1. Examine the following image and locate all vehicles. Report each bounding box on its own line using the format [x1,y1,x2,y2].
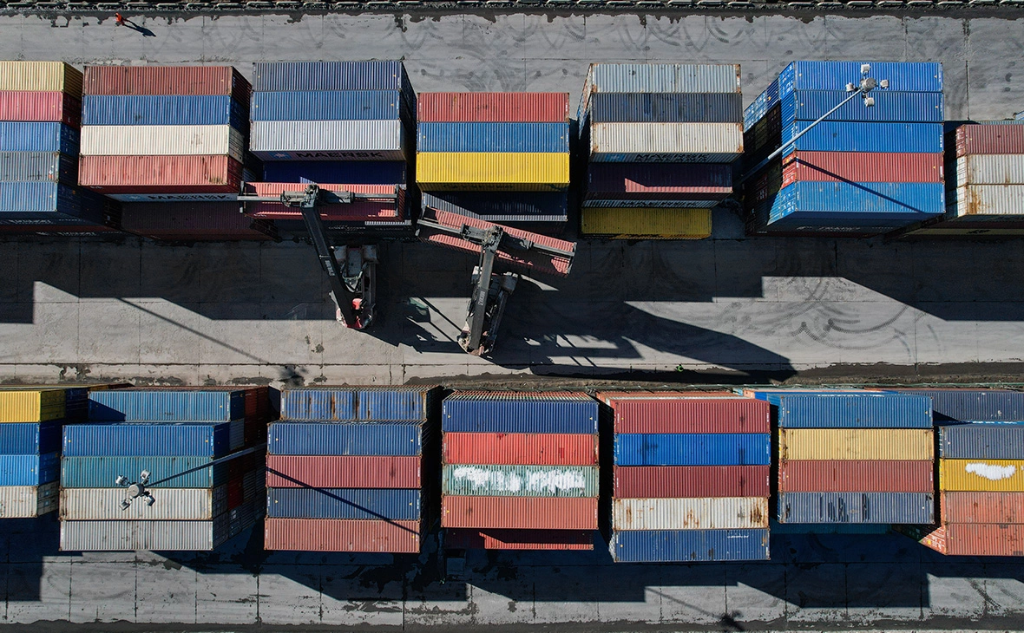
[241,181,400,330]
[415,202,575,358]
